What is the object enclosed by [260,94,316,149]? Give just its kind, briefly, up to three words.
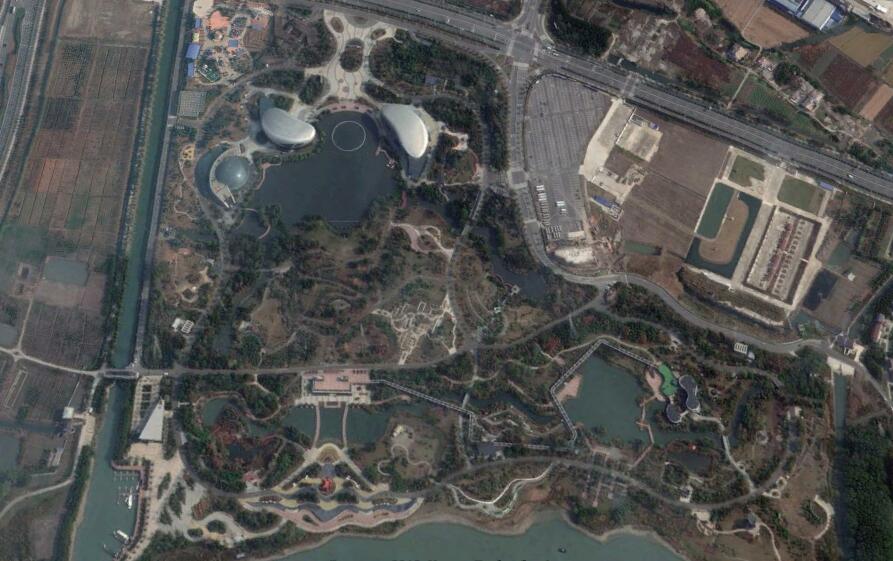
building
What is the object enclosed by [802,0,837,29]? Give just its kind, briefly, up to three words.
building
